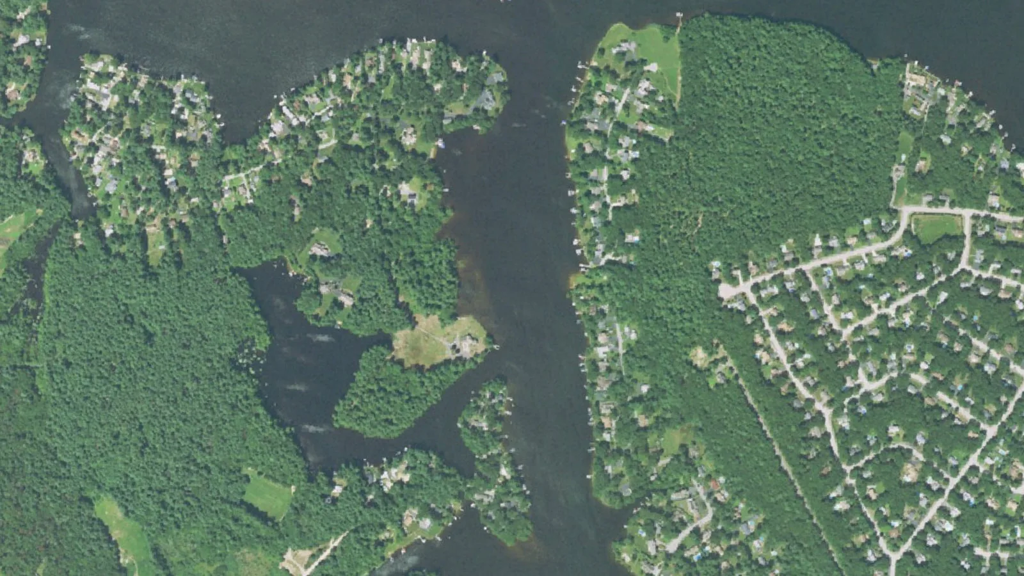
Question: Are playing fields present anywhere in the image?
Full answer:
Yes, the frame does contain a playing field.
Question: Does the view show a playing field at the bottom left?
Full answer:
Yes, a playing field can be seen at the bottom left.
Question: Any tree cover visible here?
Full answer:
Yes, tree cover shows up in the scene.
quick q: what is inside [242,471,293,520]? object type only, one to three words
sports field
